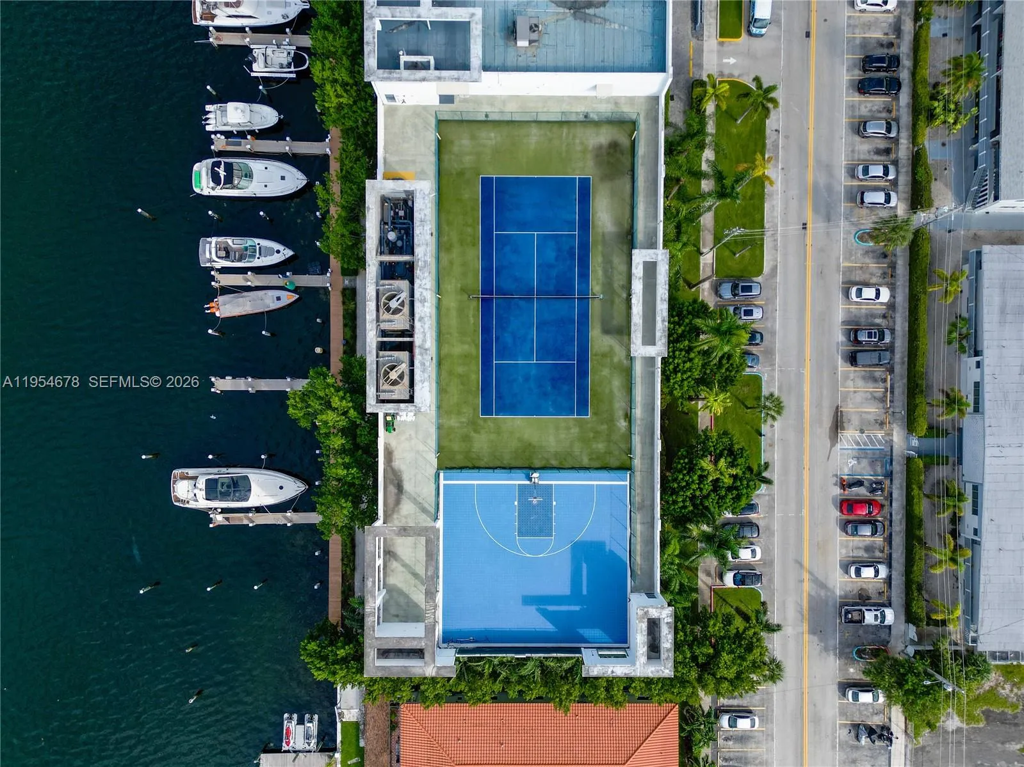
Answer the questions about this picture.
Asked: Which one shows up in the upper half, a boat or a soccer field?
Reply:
boat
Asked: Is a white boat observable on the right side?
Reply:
No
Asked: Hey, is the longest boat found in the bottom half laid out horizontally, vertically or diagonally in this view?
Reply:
horizontally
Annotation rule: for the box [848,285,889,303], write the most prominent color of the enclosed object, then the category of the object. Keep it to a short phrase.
white car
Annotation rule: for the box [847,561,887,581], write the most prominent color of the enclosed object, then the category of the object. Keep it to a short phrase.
white car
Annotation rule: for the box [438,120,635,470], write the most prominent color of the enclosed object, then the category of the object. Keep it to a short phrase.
green tennis court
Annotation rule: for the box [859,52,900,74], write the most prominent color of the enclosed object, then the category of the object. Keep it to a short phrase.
black car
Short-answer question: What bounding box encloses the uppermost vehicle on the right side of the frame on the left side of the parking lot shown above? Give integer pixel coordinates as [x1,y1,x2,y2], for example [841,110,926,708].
[748,0,773,40]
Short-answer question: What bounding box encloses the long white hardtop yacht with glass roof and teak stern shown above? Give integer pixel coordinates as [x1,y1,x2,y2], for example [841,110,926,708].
[172,468,309,513]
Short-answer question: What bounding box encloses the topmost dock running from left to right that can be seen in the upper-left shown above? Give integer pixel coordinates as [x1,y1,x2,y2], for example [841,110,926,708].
[209,26,325,55]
